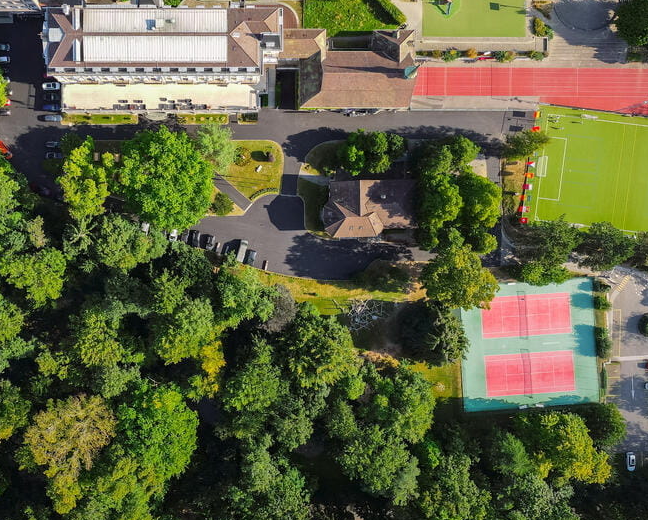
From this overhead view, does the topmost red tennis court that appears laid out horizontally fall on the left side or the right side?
right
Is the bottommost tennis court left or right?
right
